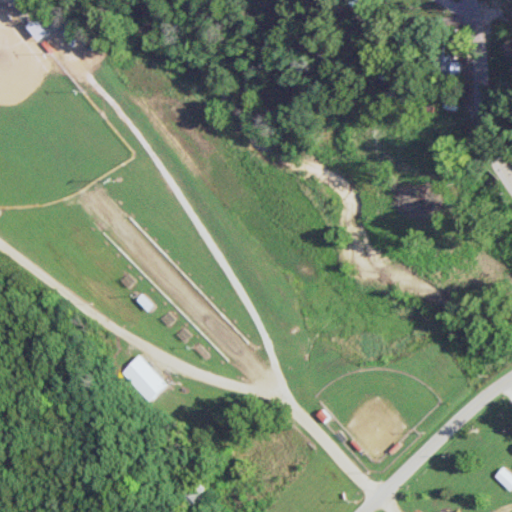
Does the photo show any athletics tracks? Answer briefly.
Yes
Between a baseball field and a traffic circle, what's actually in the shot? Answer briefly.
baseball field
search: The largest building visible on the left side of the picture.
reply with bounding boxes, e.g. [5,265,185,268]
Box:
[121,354,169,404]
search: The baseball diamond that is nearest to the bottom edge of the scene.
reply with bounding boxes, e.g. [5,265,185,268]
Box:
[315,367,441,474]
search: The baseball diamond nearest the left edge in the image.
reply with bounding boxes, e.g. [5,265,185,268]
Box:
[0,12,135,210]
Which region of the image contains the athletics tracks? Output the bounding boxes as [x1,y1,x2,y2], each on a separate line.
[86,188,274,385]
